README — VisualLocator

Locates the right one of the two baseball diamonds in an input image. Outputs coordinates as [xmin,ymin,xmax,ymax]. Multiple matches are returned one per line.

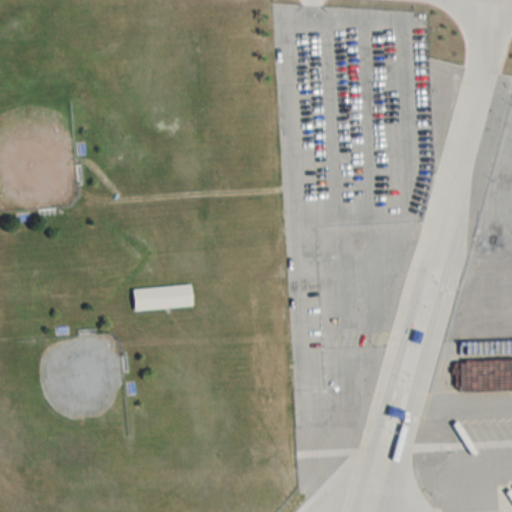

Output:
[39,333,122,421]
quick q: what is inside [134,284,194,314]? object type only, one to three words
building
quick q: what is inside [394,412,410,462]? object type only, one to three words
vehicle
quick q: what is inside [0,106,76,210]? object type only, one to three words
baseball field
